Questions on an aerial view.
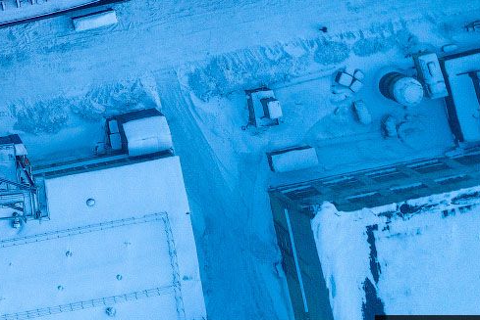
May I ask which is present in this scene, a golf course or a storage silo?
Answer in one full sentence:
Of the two, only a storage silo appears.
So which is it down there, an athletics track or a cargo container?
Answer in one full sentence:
Looking from above, you can make out a cargo container.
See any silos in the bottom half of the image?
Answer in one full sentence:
No, there's no silo to be seen in the bottom half of the image.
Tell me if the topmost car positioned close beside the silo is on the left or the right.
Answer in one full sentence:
The topmost car positioned close beside the silo sits on the right side.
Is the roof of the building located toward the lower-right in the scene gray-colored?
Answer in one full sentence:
No, the roof of the building located toward the lower-right is blue.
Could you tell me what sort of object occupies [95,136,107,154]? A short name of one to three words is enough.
vehicle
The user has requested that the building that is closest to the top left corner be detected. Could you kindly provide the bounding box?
[106,109,173,149]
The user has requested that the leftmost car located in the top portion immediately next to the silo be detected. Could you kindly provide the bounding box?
[354,100,374,125]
